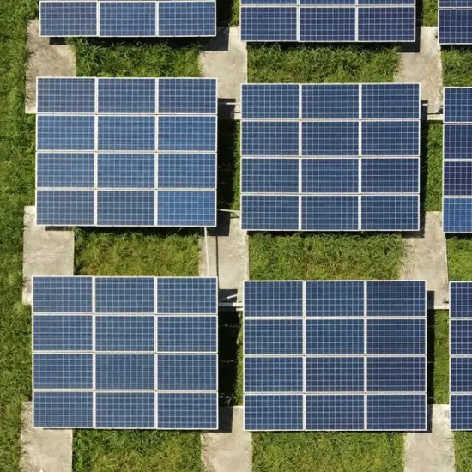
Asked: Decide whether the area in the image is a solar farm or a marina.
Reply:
solar farm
